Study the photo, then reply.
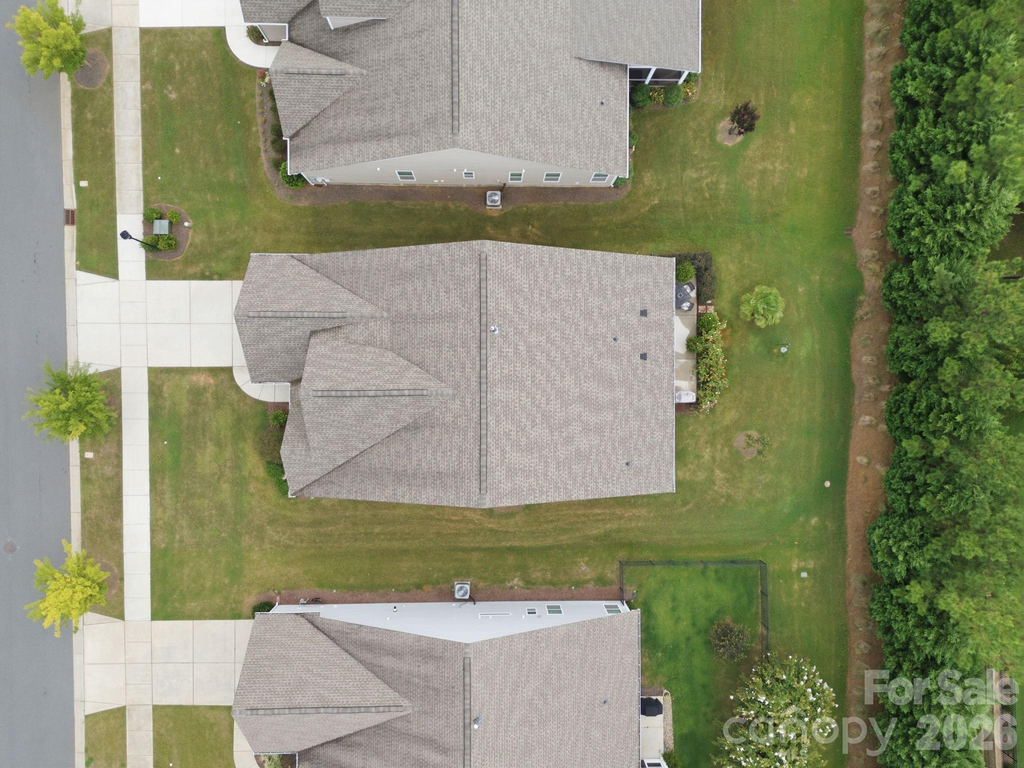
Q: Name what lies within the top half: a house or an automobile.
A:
house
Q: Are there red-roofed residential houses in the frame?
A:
No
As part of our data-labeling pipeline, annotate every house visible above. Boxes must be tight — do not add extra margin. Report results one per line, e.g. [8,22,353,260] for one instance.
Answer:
[231,592,665,768]
[240,0,703,190]
[234,241,678,507]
